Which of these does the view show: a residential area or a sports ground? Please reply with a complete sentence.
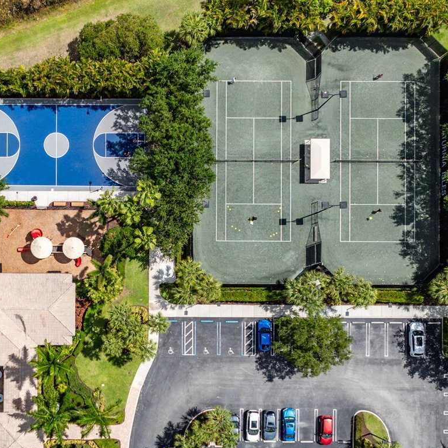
What you see here is a sports ground.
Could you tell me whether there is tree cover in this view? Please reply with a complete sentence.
Yes, tree cover can be seen from above here.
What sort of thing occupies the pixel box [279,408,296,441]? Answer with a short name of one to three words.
car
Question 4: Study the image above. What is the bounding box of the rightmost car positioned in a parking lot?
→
[408,322,425,357]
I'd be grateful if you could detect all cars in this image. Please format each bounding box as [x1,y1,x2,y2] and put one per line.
[318,414,333,445]
[257,319,271,351]
[225,410,240,438]
[279,408,296,441]
[245,409,260,441]
[408,322,425,357]
[262,409,277,440]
